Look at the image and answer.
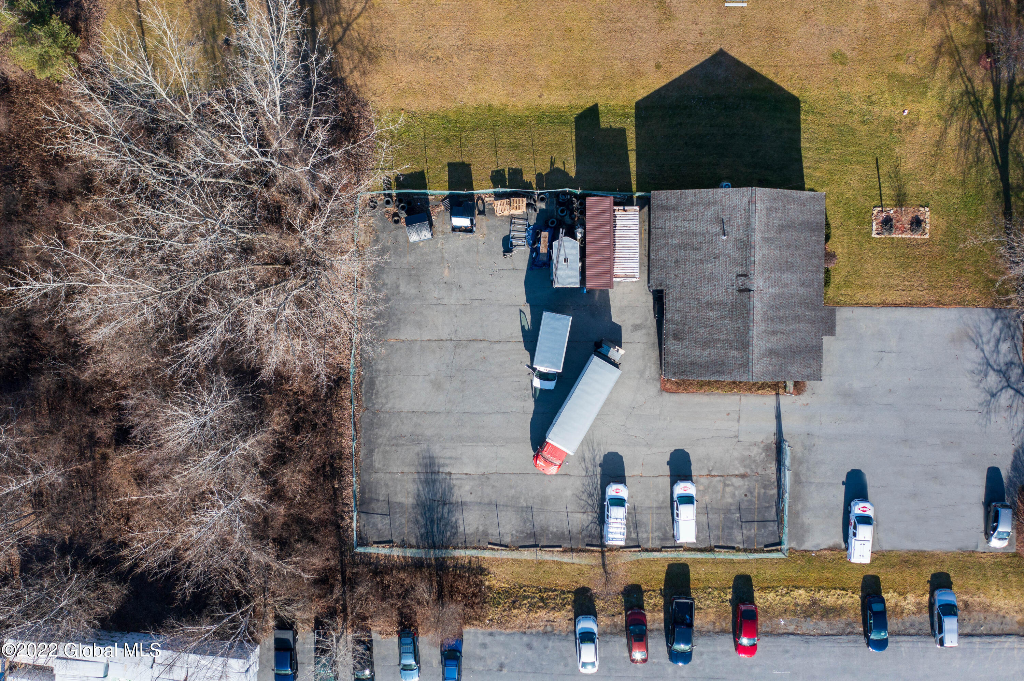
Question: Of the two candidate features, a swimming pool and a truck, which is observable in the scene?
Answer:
truck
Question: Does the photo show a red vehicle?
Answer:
Yes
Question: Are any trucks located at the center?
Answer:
Yes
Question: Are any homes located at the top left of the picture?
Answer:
No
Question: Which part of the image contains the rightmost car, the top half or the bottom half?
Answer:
bottom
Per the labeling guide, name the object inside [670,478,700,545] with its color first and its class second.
white truck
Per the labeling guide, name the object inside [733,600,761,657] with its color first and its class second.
red car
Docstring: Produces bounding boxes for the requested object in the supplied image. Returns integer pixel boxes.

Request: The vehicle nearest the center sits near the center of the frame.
[525,311,572,393]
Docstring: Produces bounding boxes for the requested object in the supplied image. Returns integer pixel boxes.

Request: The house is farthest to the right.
[648,186,835,382]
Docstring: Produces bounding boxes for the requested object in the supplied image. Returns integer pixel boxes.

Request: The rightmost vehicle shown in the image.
[982,499,1015,549]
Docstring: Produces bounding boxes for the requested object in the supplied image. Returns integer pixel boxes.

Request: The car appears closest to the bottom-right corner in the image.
[927,586,961,649]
